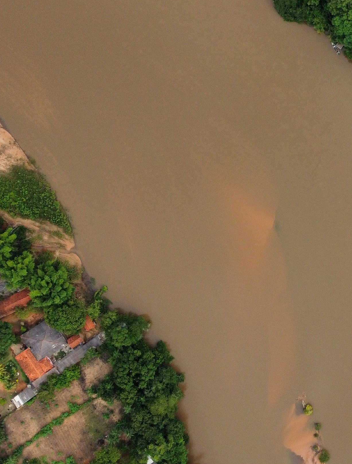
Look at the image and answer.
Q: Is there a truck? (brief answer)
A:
No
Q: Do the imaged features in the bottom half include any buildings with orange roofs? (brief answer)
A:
Yes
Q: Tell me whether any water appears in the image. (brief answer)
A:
Yes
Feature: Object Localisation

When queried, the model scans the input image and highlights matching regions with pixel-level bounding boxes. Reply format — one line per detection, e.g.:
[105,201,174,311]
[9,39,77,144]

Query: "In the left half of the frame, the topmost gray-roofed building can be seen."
[21,321,67,360]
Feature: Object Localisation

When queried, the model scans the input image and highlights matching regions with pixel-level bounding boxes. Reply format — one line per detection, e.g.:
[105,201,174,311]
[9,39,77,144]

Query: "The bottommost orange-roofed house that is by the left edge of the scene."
[16,348,55,381]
